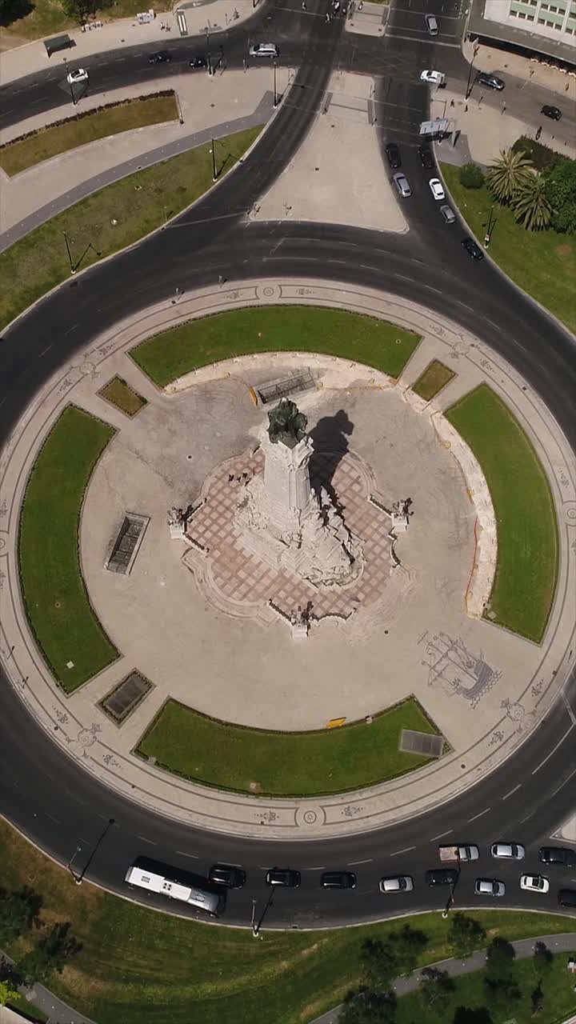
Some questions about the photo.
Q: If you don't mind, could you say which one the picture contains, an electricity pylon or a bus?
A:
bus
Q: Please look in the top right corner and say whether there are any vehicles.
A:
Yes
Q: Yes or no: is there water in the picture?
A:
No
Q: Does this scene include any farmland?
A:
No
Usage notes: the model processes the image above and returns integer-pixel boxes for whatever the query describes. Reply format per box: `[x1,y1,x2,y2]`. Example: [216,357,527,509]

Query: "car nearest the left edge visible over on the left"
[65,66,90,82]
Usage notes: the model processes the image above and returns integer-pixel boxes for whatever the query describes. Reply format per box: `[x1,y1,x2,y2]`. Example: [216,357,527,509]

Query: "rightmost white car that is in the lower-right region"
[520,875,551,894]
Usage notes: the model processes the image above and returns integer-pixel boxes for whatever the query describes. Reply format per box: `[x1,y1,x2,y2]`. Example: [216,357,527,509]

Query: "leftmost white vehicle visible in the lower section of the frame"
[127,864,227,919]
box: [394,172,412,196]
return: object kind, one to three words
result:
car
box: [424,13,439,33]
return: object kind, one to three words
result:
car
